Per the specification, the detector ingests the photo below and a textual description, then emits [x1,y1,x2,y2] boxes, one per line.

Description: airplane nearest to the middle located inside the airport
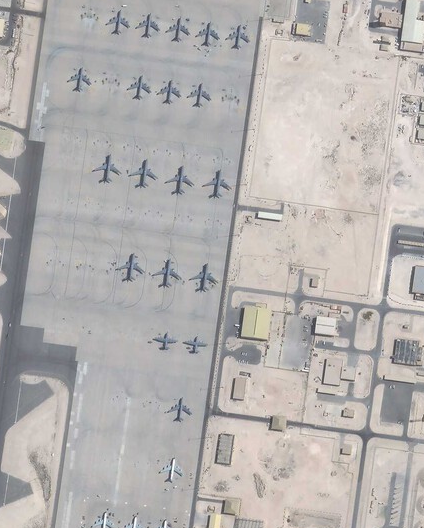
[190,264,219,292]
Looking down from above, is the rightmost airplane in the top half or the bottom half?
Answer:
top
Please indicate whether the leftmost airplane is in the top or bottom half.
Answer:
top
